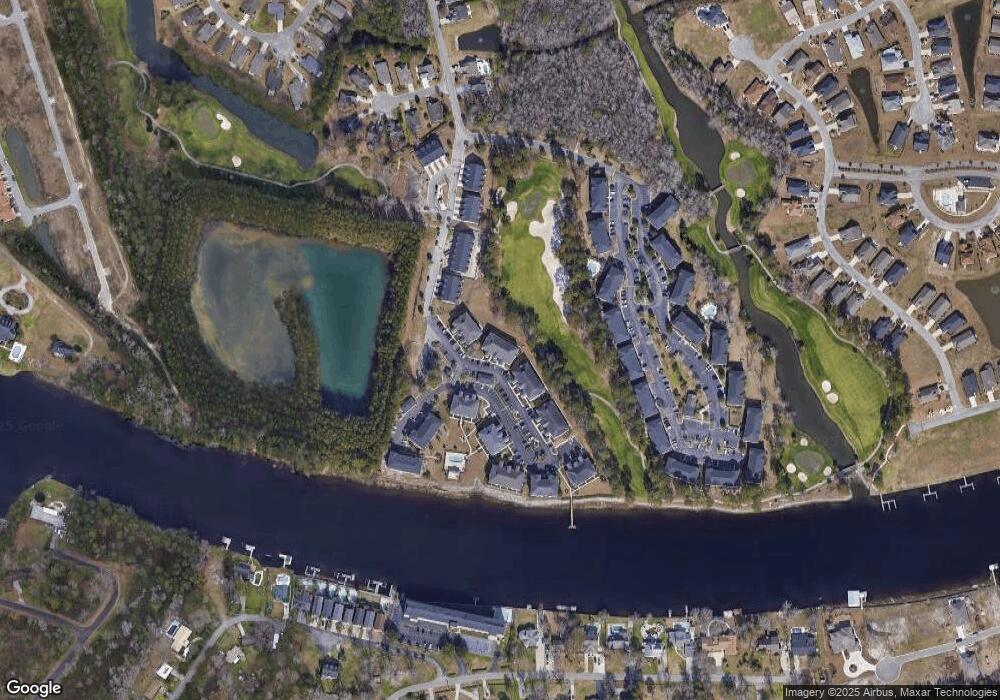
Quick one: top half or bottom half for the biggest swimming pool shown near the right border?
top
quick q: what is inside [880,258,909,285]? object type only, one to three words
house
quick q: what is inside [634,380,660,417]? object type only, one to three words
building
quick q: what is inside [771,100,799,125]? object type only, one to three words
house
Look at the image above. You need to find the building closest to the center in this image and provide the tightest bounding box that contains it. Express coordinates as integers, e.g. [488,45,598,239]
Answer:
[480,332,520,367]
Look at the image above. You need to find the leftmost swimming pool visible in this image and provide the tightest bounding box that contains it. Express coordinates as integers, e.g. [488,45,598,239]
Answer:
[9,343,24,361]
